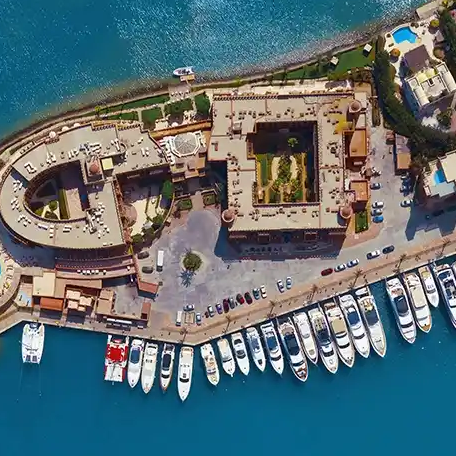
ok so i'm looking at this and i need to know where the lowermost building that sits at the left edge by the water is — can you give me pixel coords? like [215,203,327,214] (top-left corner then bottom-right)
[20,267,141,325]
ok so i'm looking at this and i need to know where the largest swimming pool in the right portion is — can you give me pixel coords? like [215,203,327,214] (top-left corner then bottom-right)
[391,25,420,46]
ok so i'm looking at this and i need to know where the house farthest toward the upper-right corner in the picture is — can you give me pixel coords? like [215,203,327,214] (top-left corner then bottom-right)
[401,62,456,120]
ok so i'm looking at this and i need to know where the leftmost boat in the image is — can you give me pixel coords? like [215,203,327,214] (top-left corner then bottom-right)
[21,324,43,366]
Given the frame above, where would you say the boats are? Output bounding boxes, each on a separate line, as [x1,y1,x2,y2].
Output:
[105,337,127,384]
[262,322,283,375]
[160,344,175,392]
[200,343,219,386]
[308,306,336,373]
[174,69,195,79]
[386,274,415,344]
[217,337,235,376]
[247,327,265,373]
[177,346,194,402]
[356,288,386,358]
[141,341,158,394]
[293,311,318,365]
[322,300,352,367]
[276,317,308,381]
[128,338,144,388]
[402,271,430,333]
[337,292,368,358]
[433,262,456,325]
[21,324,43,366]
[418,267,438,308]
[231,332,249,376]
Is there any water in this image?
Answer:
Yes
